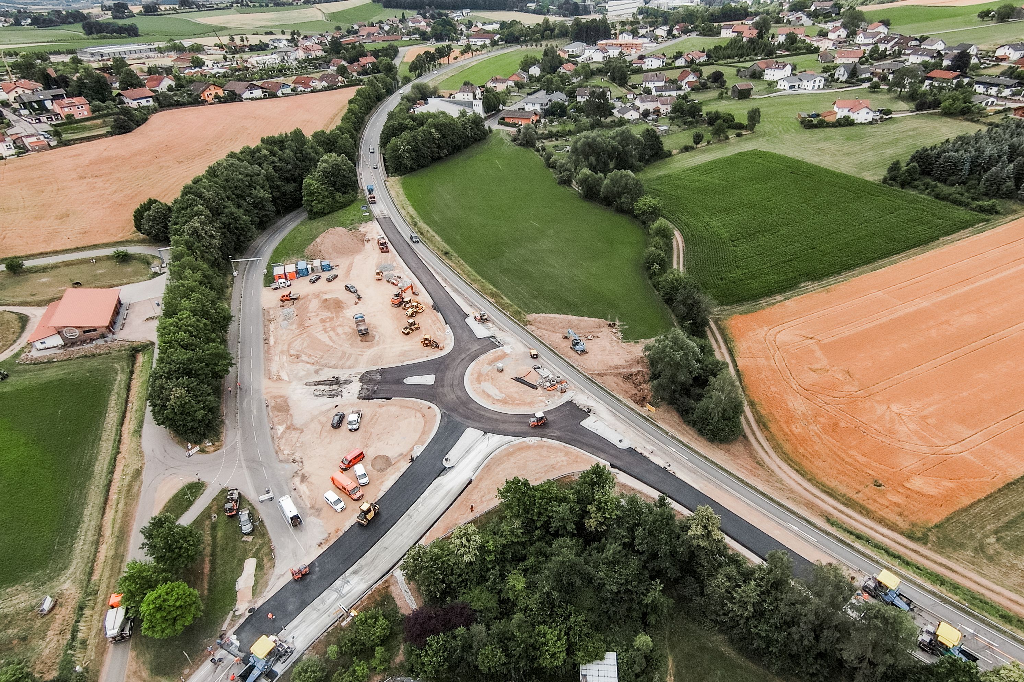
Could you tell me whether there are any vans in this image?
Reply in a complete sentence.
Yes, a van can be made out from above.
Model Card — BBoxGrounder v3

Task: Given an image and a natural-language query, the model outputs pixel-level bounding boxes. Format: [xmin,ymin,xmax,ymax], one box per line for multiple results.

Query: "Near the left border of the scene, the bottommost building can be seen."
[15,289,124,354]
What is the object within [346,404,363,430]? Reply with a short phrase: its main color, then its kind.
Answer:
white vehicle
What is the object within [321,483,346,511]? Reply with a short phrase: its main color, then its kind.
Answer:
white car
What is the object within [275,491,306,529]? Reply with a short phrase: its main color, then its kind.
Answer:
white van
